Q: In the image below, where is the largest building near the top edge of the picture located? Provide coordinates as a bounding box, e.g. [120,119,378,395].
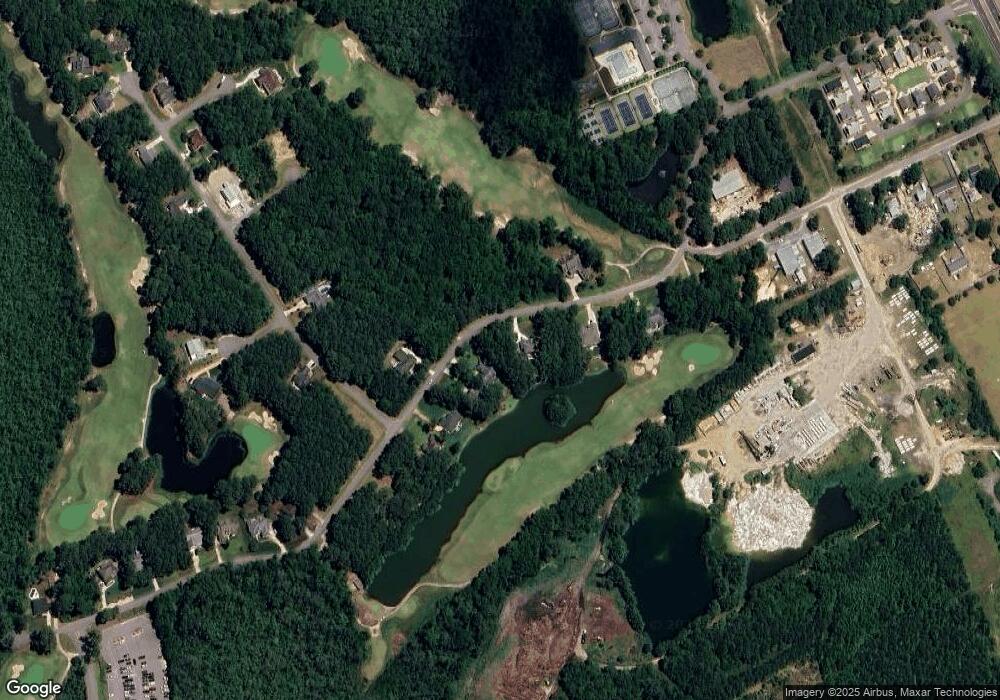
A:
[591,28,655,73]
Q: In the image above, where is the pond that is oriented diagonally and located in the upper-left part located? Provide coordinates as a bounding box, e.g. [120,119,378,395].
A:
[10,73,62,159]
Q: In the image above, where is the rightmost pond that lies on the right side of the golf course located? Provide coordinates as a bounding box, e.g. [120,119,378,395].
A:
[743,485,856,589]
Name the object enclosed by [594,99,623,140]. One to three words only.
sports court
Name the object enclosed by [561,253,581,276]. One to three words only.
house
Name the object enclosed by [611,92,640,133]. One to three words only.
sports court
